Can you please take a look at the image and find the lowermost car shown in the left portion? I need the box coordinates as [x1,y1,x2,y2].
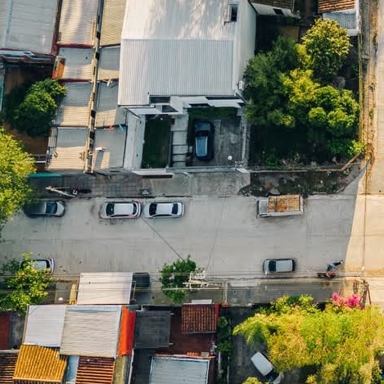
[132,272,155,290]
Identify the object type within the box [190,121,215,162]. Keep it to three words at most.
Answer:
car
